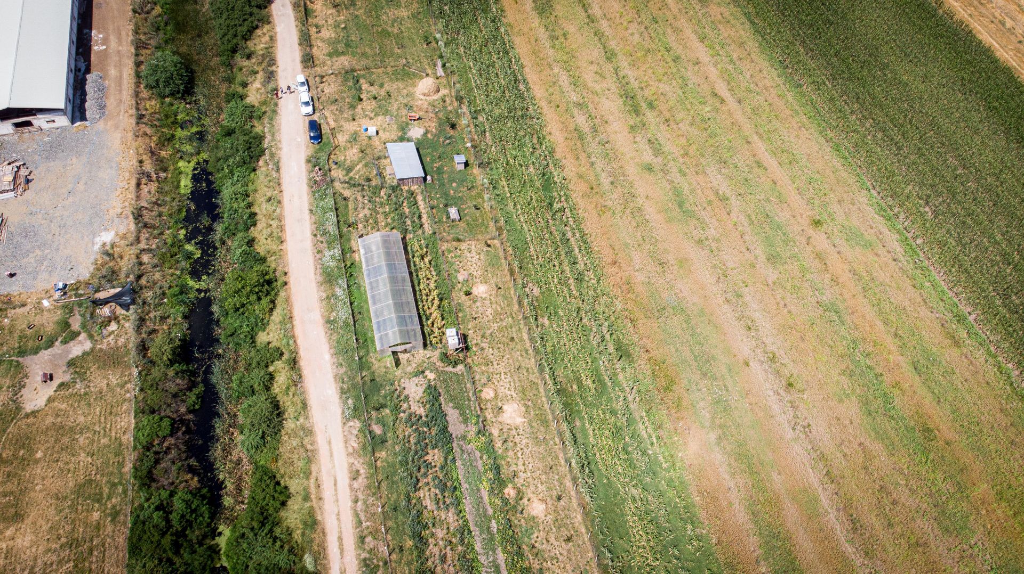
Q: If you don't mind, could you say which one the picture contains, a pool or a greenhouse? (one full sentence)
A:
Of the two, only a greenhouse appears.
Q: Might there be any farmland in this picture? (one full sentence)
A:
Yes, some farmland is visible.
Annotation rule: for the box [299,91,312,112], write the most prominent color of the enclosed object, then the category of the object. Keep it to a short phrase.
white vehicle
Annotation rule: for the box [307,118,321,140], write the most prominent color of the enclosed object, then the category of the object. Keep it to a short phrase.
blue car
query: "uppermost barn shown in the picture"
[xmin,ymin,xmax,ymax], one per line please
[0,0,78,137]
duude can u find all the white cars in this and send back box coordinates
[299,91,312,112]
[291,71,309,92]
